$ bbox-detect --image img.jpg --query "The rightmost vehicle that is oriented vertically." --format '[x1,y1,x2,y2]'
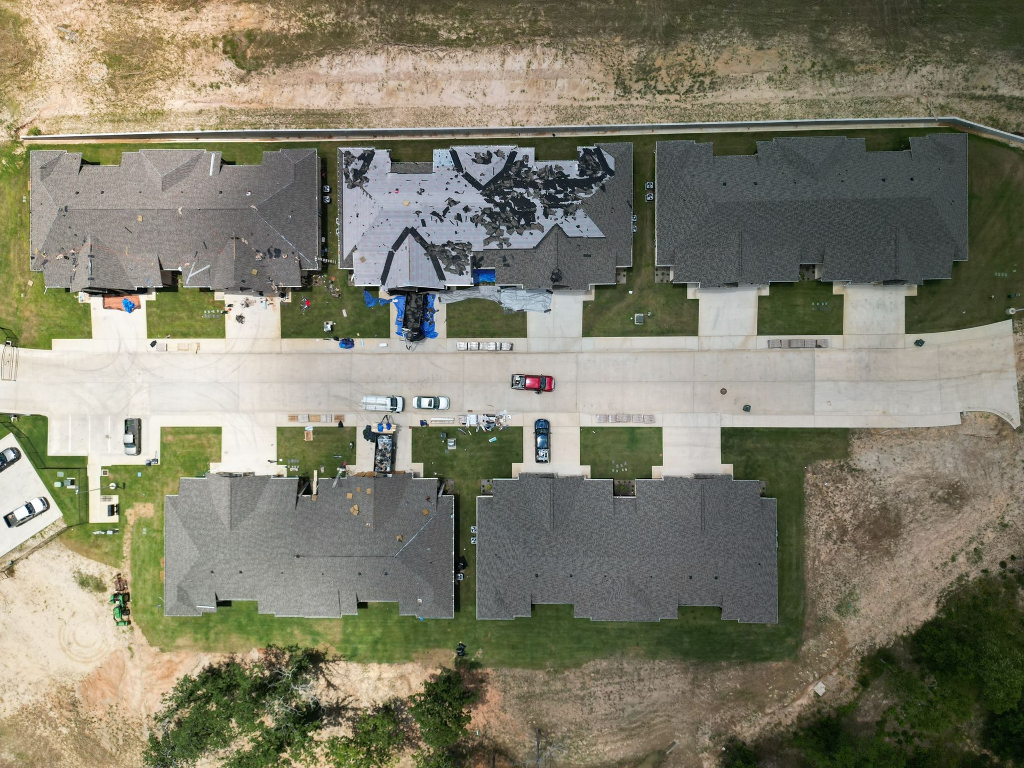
[534,418,550,463]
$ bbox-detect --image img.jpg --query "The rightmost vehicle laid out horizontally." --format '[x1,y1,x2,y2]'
[510,375,555,391]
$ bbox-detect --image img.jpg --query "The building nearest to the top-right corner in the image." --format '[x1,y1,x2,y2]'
[655,133,969,288]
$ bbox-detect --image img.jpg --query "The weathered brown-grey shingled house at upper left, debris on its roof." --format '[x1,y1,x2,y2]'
[30,149,320,292]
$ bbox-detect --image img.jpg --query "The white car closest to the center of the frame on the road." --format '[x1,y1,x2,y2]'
[413,395,450,411]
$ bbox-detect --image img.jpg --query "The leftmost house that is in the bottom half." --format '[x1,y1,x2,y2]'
[164,473,454,618]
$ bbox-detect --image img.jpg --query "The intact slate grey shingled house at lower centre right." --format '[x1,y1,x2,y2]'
[476,475,778,623]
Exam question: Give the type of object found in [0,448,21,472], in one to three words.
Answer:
car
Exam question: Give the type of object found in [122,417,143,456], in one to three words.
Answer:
truck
